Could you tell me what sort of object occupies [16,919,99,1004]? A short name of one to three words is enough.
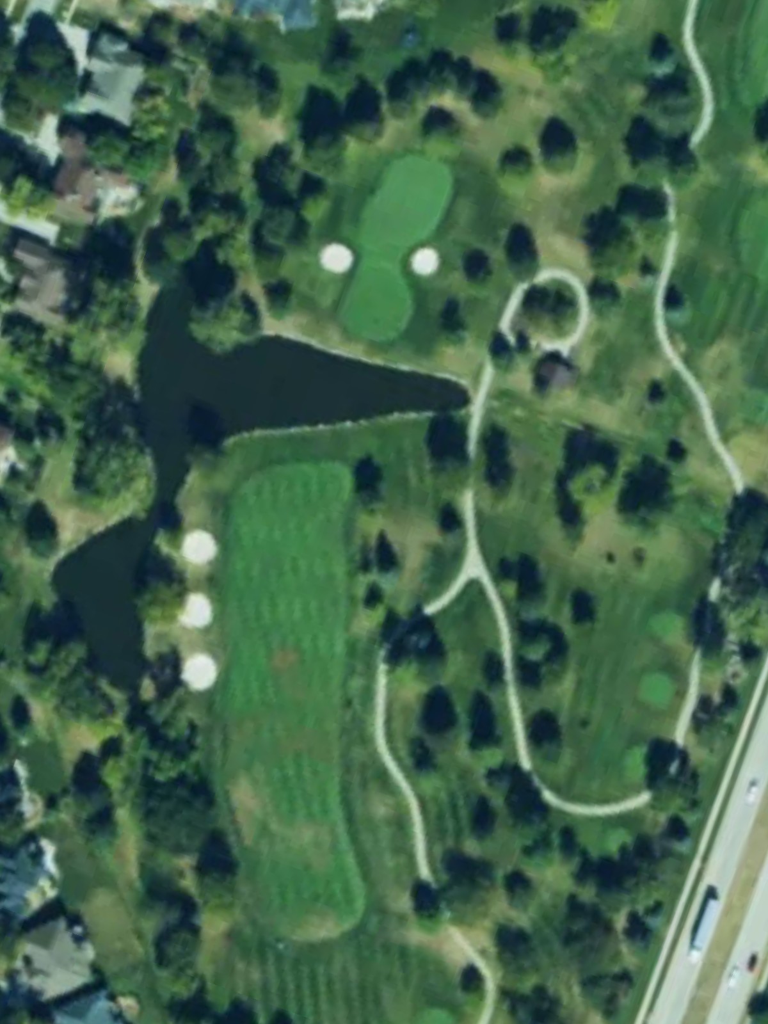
house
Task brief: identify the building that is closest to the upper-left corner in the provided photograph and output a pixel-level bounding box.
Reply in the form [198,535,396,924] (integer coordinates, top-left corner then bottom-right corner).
[75,28,147,122]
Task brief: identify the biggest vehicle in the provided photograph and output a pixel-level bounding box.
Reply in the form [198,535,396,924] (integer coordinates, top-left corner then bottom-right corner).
[690,895,720,960]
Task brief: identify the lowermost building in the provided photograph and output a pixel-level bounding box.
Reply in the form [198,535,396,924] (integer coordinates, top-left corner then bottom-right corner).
[46,984,122,1024]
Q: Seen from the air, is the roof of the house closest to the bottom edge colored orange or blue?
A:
blue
